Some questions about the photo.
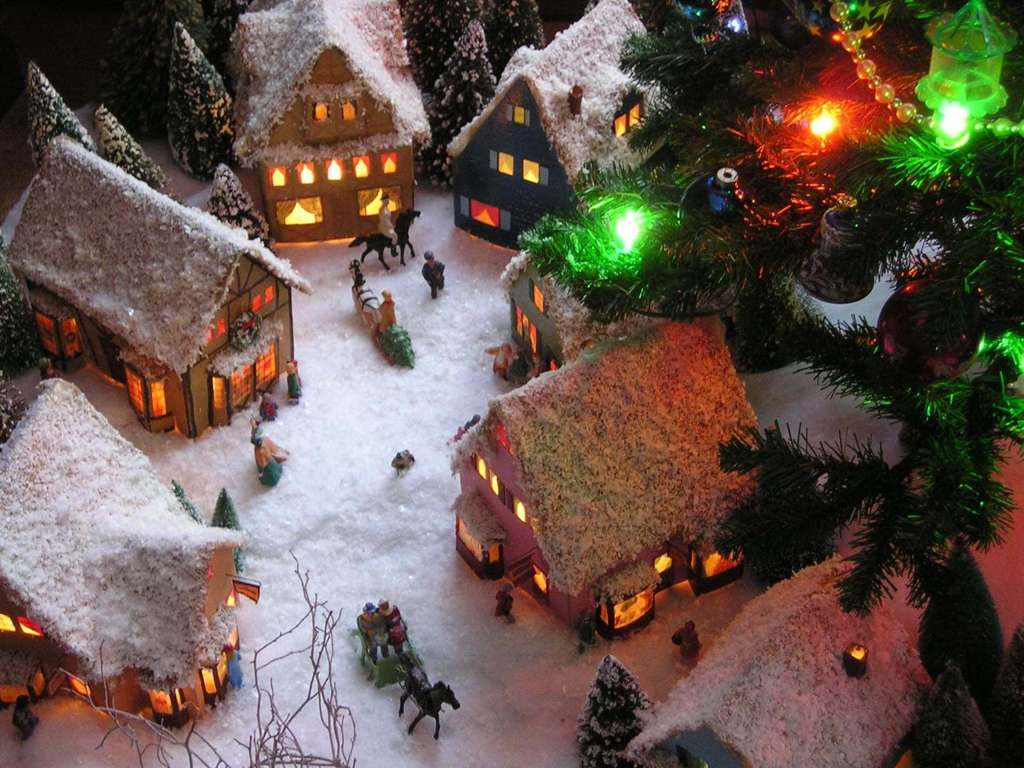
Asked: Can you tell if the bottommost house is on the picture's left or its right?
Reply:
right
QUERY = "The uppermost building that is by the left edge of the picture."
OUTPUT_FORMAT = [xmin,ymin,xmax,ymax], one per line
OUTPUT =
[12,133,313,437]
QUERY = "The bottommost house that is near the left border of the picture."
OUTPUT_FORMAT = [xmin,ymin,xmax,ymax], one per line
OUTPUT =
[0,370,252,730]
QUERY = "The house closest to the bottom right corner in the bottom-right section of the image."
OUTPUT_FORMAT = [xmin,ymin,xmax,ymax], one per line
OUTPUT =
[628,555,932,768]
